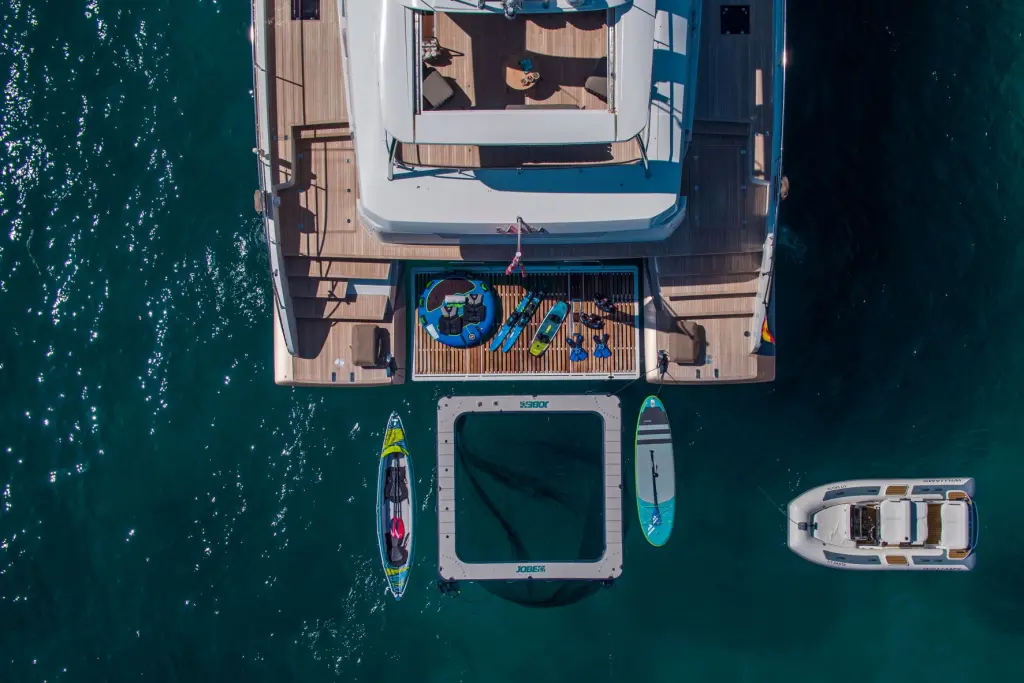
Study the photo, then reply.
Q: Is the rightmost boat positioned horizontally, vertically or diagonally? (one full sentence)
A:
What the image shows is the rightmost boat lying horizontally.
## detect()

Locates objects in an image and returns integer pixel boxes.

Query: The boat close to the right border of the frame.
[789,478,978,571]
